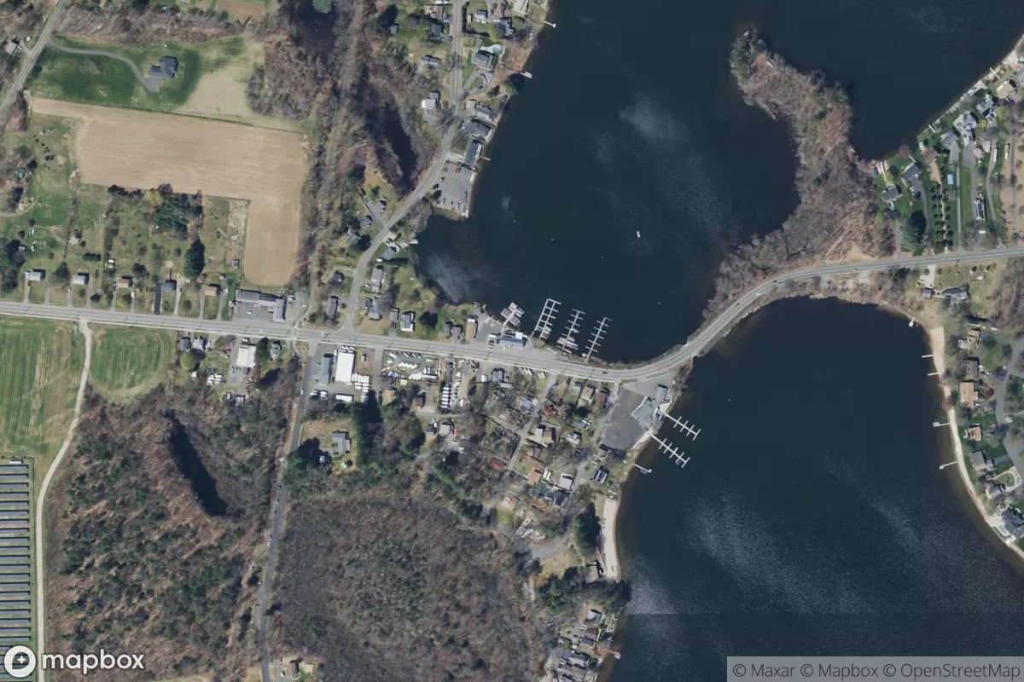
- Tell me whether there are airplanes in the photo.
No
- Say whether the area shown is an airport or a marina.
marina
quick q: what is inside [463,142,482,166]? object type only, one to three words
house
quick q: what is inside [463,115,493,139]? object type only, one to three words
house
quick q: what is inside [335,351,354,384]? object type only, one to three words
building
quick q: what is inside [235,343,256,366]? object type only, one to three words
building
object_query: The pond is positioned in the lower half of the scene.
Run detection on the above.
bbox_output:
[167,410,229,517]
